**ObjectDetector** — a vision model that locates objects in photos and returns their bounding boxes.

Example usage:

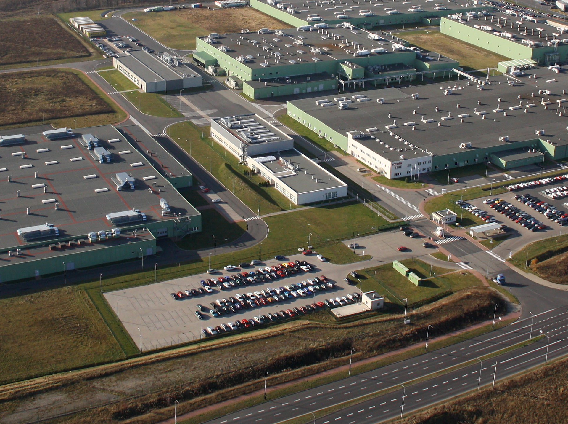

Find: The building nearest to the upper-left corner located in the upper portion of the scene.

[111,49,202,93]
